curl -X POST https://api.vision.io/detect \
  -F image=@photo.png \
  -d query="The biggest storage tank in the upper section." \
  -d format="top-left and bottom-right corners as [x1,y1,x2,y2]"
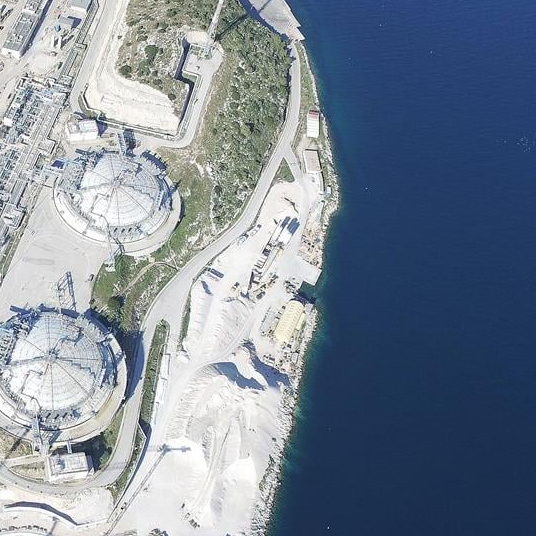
[51,133,183,261]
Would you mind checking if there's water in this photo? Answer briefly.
Yes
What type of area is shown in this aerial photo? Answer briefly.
industrial area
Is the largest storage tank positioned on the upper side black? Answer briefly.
No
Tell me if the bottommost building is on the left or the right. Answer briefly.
left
